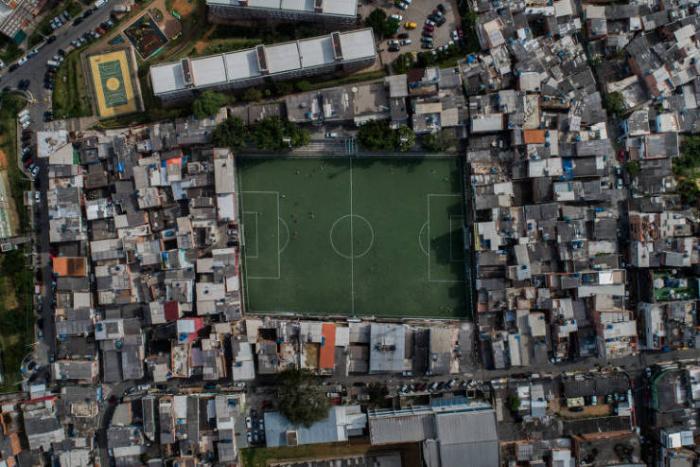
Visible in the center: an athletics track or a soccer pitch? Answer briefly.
soccer pitch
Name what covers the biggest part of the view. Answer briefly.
buildings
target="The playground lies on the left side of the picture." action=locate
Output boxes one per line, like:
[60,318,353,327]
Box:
[121,10,168,60]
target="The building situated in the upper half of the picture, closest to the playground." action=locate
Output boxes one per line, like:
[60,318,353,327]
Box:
[148,27,377,101]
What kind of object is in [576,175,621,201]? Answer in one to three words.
house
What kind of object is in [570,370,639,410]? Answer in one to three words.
house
